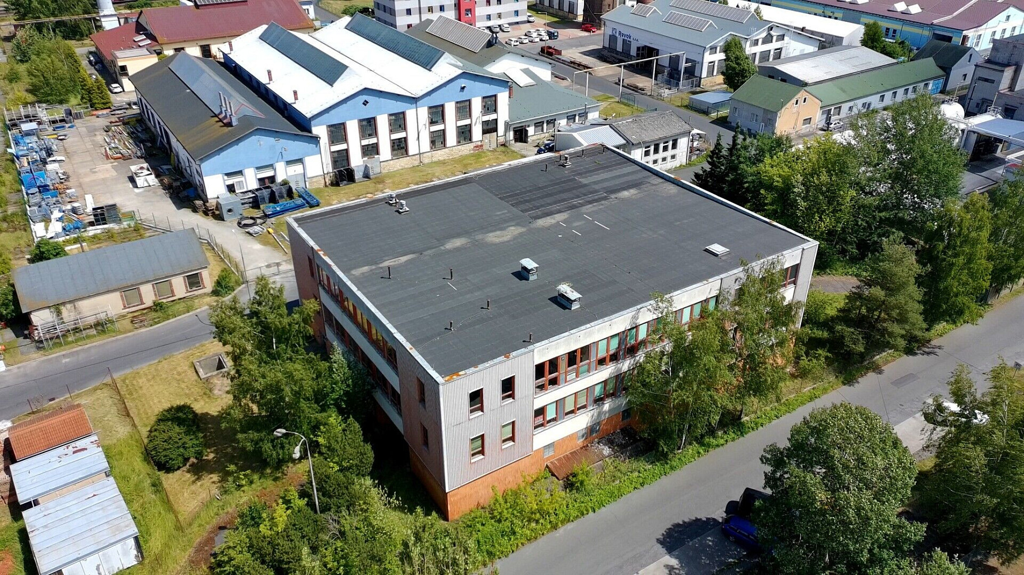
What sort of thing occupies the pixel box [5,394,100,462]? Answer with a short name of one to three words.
shed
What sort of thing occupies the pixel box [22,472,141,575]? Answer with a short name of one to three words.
shed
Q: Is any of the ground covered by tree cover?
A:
Yes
